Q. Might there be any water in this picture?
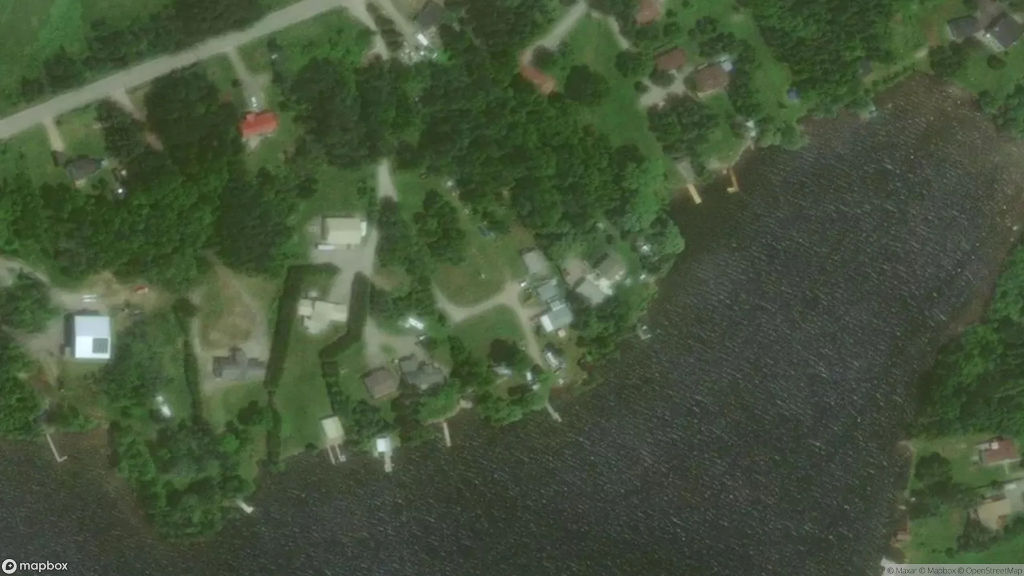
Yes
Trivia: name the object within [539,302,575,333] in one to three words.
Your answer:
building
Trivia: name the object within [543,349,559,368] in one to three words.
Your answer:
vehicle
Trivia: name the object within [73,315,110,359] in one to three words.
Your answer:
barn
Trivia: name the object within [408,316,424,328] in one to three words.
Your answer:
vehicle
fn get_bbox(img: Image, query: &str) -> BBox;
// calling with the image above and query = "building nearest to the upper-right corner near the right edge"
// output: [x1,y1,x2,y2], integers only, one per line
[982,11,1024,53]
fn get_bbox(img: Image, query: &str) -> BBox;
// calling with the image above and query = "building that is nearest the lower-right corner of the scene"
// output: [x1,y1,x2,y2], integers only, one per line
[976,494,1013,530]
